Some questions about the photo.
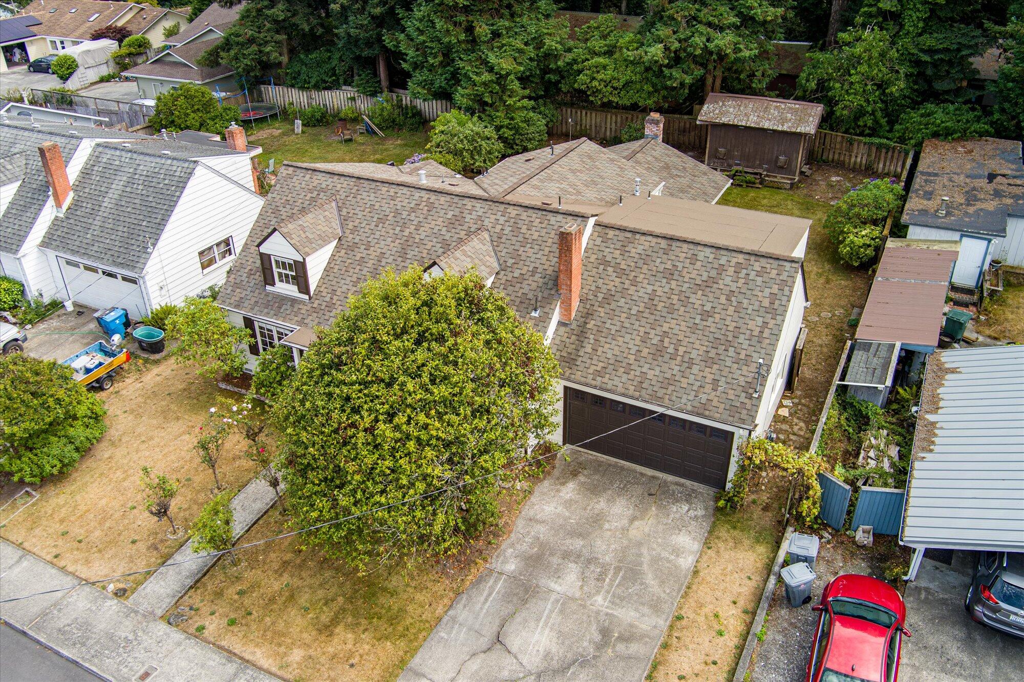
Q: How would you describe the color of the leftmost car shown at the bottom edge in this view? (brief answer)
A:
red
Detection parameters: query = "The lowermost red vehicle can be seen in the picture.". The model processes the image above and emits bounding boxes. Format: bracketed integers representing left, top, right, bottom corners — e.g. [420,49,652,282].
[800,567,919,682]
